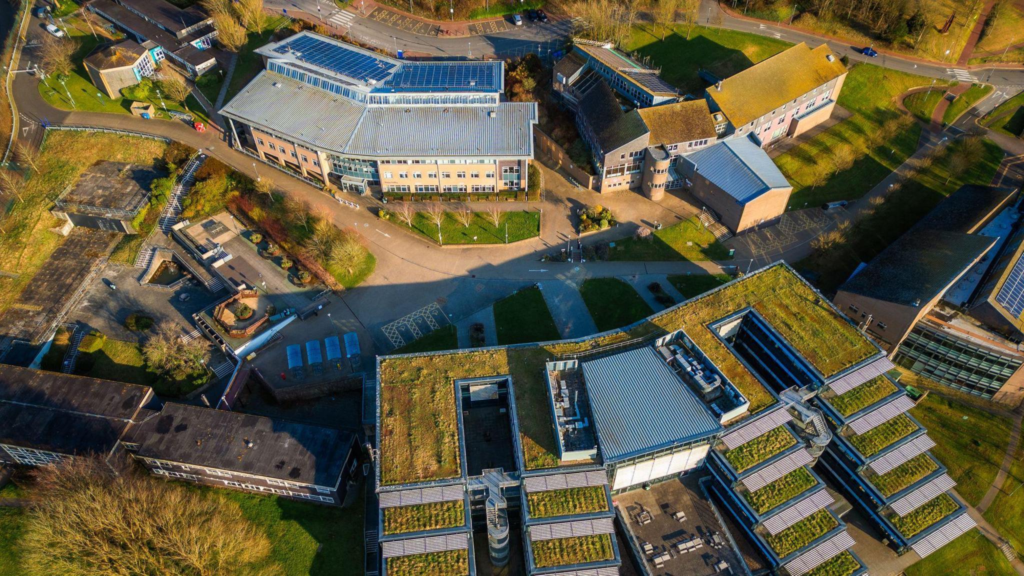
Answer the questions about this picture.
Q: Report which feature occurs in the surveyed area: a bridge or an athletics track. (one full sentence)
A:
The one in the frame is a bridge.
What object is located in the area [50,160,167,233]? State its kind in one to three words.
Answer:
building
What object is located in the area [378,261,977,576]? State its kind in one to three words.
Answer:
building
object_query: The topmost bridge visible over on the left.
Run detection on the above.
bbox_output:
[214,357,257,412]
